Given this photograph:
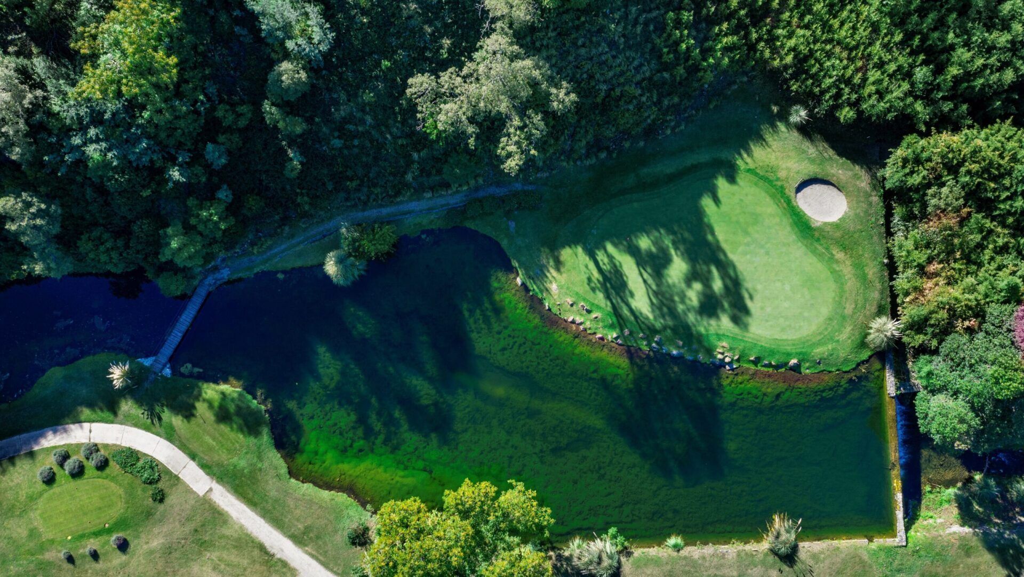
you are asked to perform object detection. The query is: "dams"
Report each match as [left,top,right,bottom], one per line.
[883,347,906,546]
